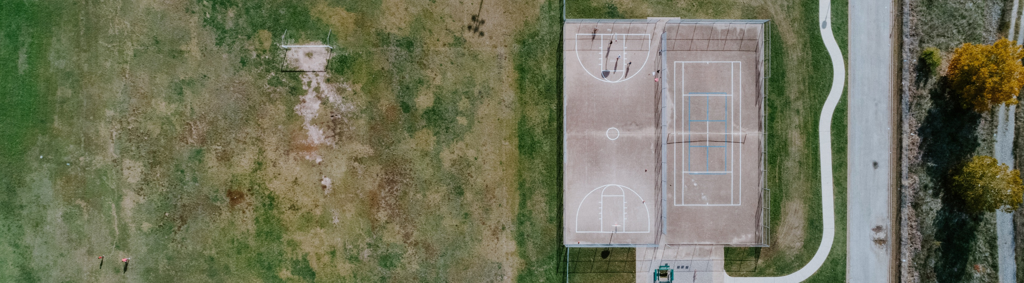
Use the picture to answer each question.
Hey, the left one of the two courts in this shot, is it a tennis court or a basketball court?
basketball court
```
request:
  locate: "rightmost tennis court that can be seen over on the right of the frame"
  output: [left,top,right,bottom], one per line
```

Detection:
[661,23,763,245]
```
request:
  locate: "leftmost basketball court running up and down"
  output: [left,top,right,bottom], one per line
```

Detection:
[563,23,661,245]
